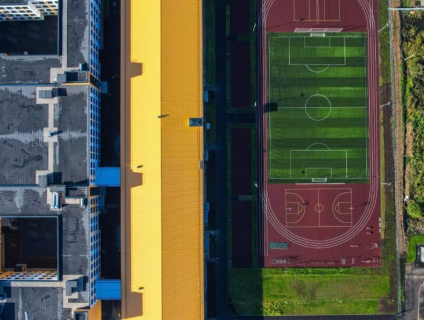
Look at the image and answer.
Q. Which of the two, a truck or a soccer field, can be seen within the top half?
soccer field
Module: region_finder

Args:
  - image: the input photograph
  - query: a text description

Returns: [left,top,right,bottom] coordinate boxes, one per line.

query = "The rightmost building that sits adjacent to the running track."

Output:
[121,0,219,320]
